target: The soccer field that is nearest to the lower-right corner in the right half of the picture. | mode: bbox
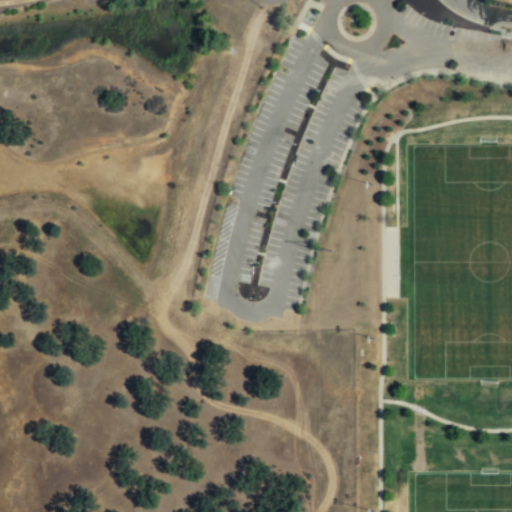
[410,474,512,512]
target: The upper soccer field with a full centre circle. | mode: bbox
[408,145,512,379]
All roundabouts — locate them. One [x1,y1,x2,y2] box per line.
[326,0,390,54]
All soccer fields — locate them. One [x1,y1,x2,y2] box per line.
[410,474,512,512]
[408,145,512,379]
